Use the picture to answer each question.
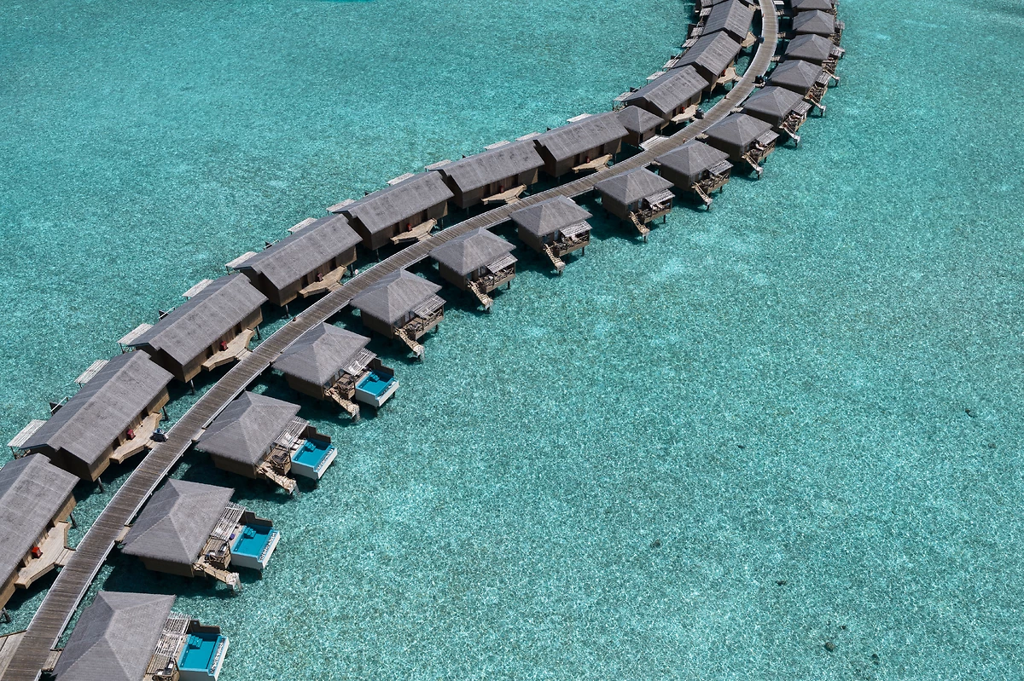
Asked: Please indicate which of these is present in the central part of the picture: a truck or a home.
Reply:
home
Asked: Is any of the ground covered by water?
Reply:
Yes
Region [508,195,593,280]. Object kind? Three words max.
house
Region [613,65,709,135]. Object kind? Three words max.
house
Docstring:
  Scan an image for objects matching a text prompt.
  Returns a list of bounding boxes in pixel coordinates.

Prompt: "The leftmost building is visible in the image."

[0,453,80,602]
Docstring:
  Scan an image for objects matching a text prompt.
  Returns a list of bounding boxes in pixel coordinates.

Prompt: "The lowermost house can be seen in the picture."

[55,591,226,681]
